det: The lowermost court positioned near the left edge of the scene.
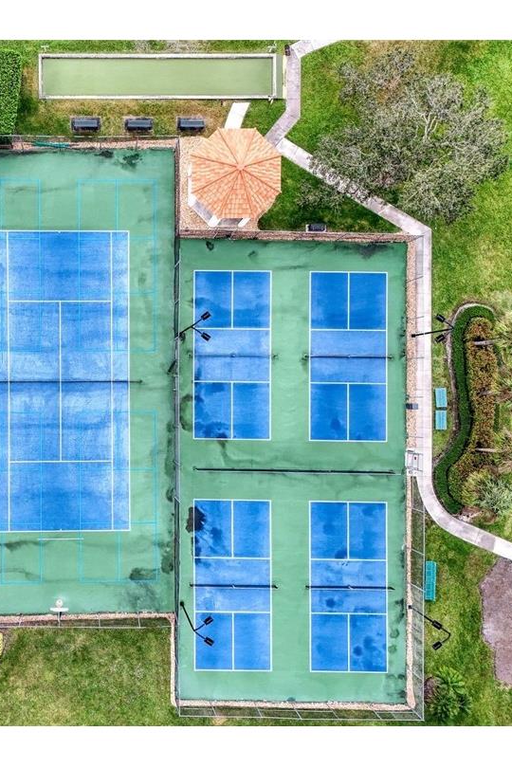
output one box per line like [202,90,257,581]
[0,149,175,618]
